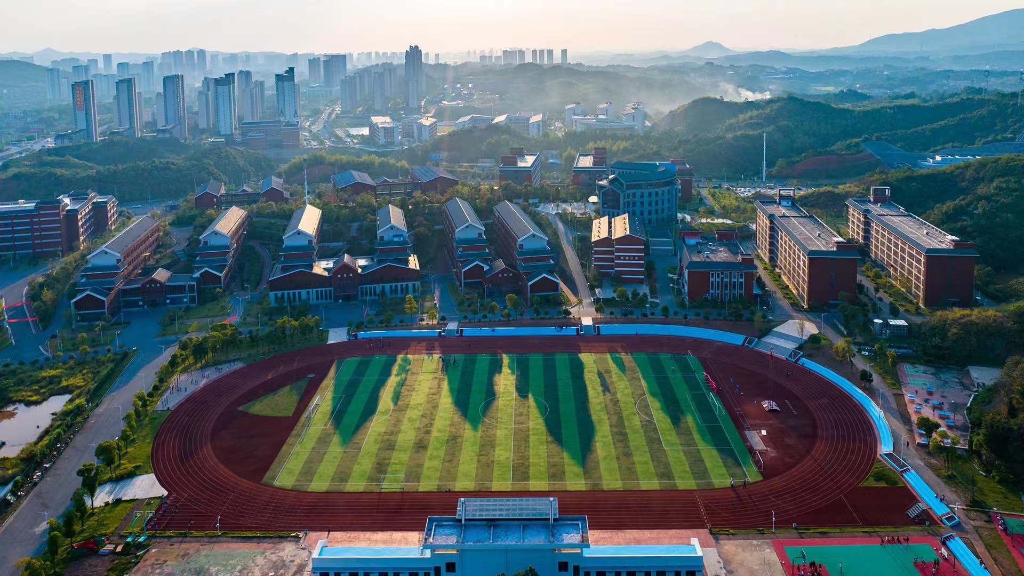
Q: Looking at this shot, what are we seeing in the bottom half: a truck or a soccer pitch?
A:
soccer pitch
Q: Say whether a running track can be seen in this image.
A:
Yes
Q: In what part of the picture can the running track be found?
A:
bottom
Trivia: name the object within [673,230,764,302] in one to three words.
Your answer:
building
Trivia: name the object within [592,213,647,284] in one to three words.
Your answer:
building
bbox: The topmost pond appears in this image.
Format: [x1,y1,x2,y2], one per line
[0,394,70,459]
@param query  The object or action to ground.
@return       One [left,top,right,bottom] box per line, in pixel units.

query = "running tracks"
[112,336,934,531]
